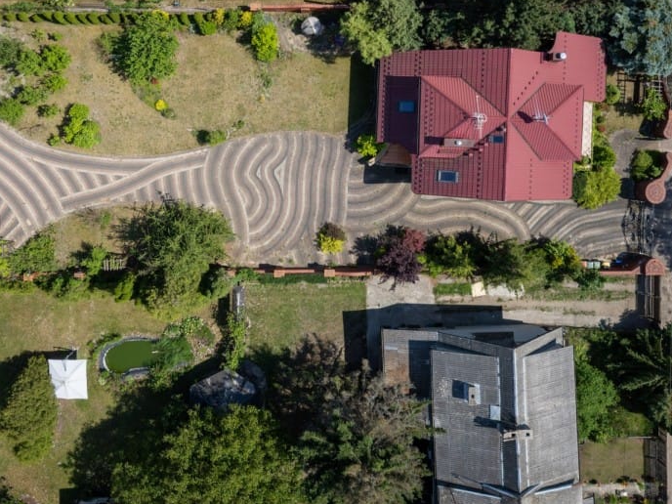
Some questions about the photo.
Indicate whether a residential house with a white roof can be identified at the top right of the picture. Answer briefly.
No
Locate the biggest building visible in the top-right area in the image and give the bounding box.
[374,33,608,202]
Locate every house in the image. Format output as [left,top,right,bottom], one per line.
[381,317,578,504]
[374,33,608,202]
